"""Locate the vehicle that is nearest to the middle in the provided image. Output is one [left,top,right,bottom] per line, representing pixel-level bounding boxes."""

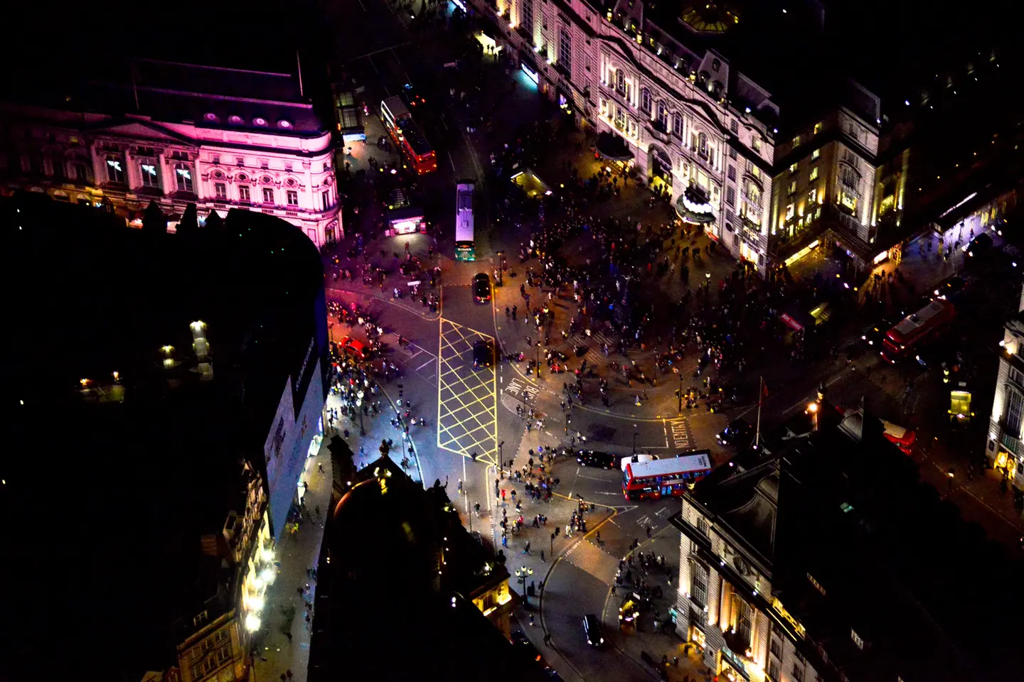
[475,341,493,367]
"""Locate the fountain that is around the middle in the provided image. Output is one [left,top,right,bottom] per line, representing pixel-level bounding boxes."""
[589,276,646,342]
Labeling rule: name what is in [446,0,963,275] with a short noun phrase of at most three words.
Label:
building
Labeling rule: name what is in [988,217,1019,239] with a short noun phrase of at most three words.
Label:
car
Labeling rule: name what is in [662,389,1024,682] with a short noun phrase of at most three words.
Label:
building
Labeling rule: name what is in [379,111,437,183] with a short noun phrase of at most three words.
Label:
bus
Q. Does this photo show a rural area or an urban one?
urban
